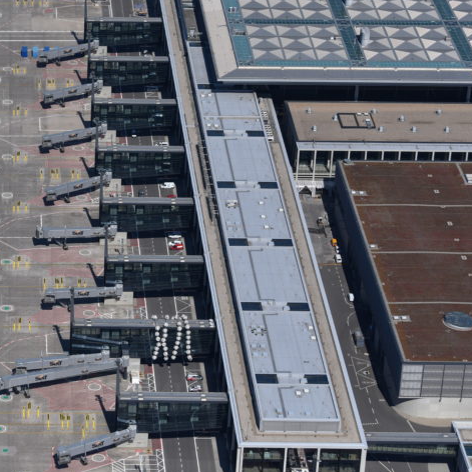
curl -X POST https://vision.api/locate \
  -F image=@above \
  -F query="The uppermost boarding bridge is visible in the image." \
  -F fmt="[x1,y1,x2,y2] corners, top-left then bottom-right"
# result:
[32,38,103,70]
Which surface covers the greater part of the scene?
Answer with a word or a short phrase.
buildings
